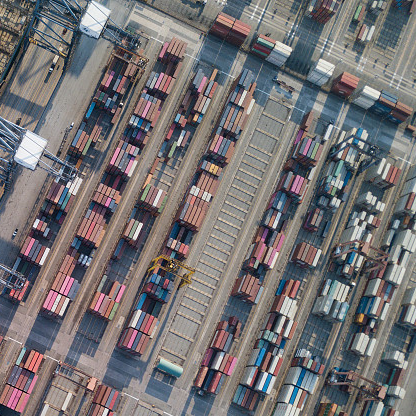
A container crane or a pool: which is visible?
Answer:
container crane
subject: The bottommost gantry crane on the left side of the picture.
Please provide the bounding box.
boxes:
[49,360,98,392]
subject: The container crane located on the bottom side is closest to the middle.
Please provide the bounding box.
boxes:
[144,254,195,290]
